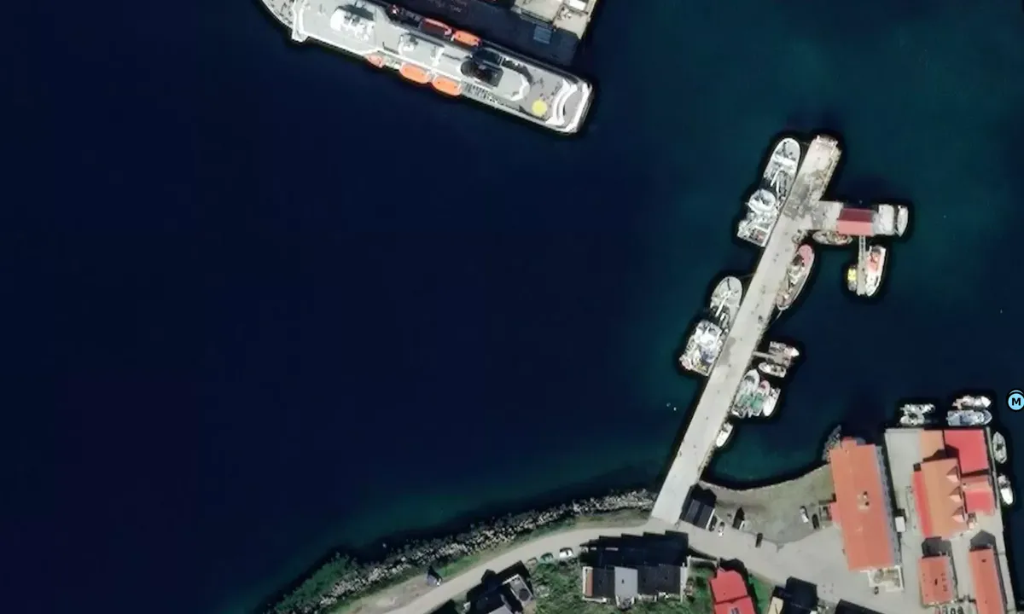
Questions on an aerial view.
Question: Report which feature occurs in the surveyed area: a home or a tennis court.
home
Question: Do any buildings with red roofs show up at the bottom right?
Yes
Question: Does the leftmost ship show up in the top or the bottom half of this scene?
top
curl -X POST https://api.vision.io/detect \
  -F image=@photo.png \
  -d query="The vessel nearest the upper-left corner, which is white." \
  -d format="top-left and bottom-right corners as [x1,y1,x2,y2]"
[267,0,595,133]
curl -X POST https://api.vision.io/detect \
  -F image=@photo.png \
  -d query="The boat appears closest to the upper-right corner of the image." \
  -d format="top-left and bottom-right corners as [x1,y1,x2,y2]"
[896,205,909,236]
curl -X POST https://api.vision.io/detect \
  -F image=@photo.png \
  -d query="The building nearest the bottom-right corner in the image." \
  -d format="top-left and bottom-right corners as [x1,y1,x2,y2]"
[970,549,1006,614]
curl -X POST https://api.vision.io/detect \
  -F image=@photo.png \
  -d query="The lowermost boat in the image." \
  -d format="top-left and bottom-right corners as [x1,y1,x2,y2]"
[997,475,1011,505]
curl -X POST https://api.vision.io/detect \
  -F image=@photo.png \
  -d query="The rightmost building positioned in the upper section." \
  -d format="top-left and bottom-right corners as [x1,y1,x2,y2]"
[838,209,875,237]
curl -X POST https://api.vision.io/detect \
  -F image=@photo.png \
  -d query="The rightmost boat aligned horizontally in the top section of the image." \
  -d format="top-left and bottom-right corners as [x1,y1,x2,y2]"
[812,232,853,247]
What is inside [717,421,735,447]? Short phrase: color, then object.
white boat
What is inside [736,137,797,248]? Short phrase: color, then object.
white vessel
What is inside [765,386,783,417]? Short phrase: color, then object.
white boat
